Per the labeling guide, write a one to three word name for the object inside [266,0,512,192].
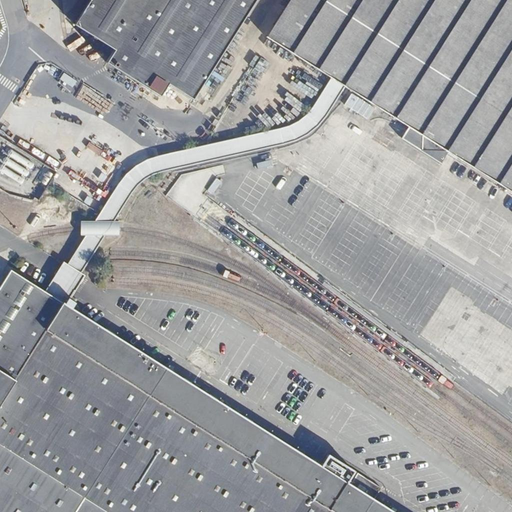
building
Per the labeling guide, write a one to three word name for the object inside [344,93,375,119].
shed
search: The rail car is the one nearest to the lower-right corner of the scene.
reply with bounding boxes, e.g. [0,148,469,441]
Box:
[436,374,456,391]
